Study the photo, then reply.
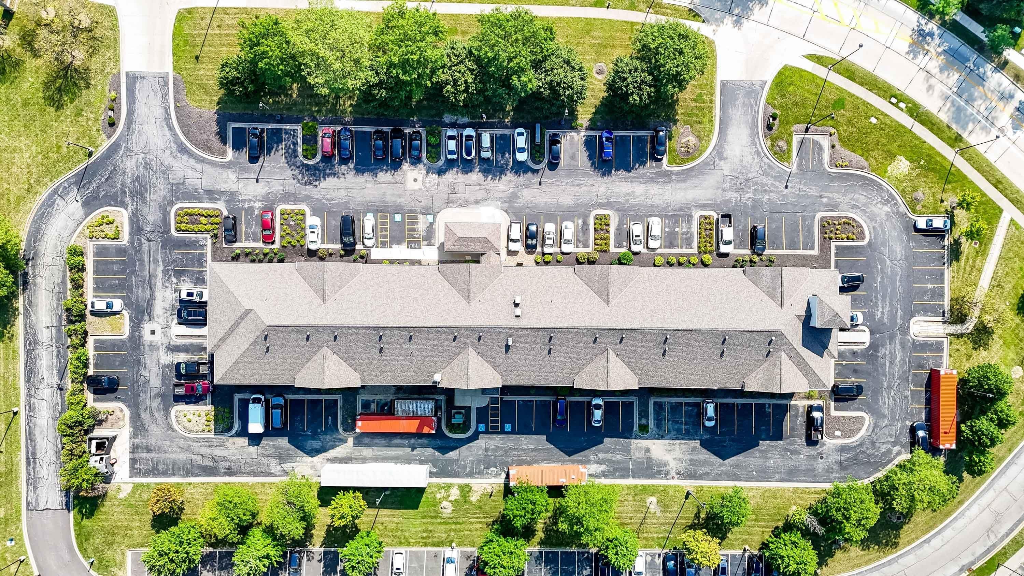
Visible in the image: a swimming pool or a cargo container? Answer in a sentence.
I can see a cargo container in this picture.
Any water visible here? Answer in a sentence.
No, the scene doesn't show any water.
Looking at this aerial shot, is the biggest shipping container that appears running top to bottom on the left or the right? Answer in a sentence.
You can find the biggest shipping container that appears running top to bottom on the right side of the picture.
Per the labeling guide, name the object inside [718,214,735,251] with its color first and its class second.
white vehicle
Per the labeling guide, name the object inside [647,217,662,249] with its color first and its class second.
white car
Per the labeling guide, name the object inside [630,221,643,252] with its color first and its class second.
white vehicle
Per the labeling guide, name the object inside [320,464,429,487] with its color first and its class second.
white trailer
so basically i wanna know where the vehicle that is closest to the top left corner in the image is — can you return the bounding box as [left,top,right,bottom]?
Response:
[247,127,263,157]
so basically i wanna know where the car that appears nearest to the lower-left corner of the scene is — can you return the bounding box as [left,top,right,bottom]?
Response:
[87,374,120,389]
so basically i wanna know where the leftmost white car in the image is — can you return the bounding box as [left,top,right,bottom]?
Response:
[90,298,125,313]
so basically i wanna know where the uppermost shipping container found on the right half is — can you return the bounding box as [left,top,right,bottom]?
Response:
[931,367,957,449]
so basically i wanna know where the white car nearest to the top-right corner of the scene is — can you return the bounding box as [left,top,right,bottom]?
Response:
[914,217,949,232]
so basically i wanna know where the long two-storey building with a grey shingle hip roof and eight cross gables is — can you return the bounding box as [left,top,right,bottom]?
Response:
[208,222,850,394]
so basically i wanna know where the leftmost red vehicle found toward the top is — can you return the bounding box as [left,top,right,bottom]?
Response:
[262,211,276,243]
